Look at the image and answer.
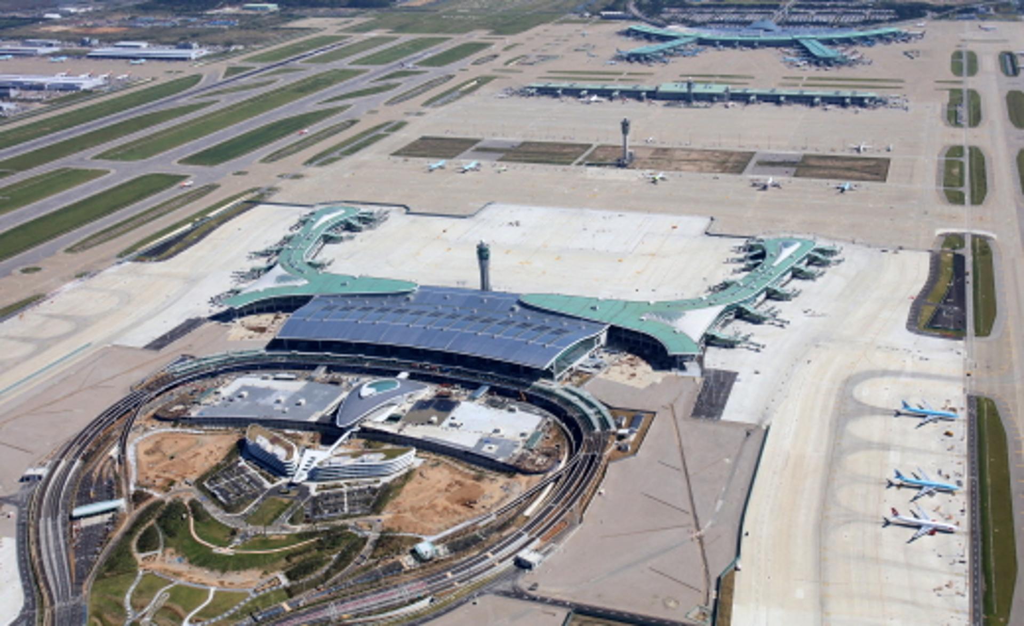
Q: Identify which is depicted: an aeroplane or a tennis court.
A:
aeroplane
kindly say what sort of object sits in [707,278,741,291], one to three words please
jet bridge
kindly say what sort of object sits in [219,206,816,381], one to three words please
building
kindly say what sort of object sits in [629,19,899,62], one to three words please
building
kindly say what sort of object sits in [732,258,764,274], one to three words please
jet bridge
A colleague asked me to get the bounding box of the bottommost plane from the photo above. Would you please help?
[885,500,961,539]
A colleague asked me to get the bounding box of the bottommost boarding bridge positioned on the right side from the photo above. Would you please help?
[707,330,758,351]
